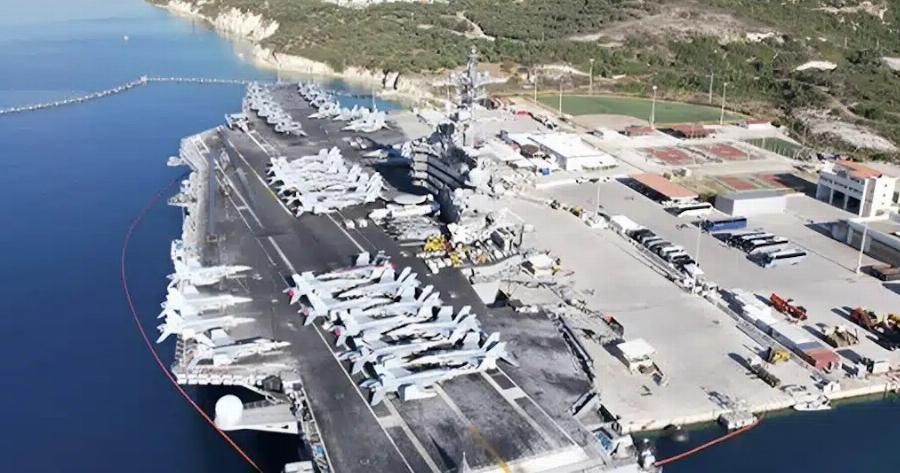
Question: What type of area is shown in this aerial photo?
port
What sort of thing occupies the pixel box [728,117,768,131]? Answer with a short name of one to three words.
shed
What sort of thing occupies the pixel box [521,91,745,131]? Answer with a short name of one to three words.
sports field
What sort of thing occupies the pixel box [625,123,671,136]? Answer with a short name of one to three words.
shed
